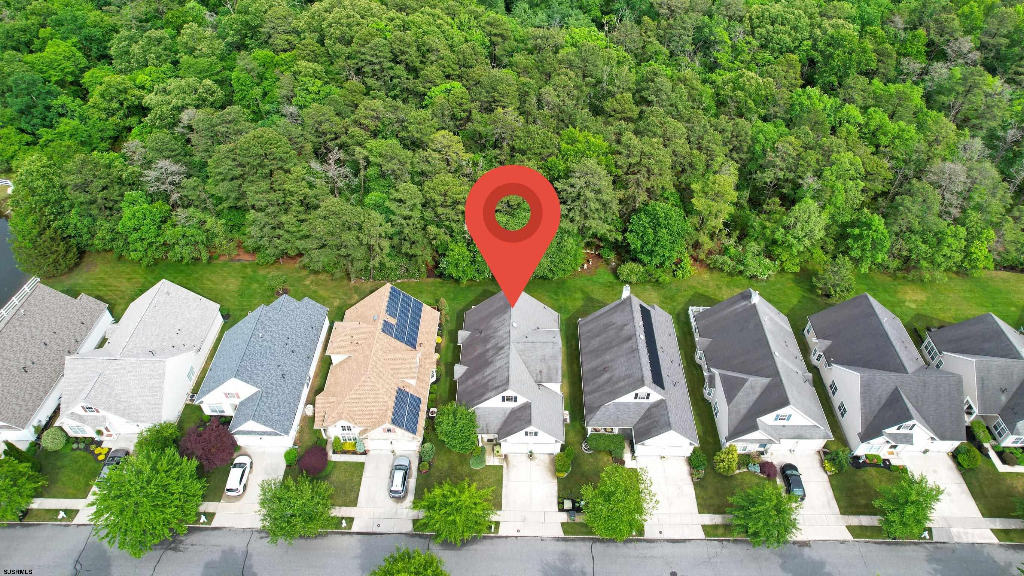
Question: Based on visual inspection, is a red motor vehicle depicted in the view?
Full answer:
No, I find no red motor vehicle anywhere in the image.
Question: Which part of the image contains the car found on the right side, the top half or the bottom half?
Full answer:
You can find the car found on the right side in the bottom half.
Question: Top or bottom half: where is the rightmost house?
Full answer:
Seen from above, the rightmost house lies in the bottom half of the view.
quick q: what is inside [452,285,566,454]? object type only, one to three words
house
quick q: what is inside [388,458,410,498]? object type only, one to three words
car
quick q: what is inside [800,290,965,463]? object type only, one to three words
house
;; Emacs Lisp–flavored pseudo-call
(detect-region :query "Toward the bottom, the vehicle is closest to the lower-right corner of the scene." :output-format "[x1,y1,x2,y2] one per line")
[778,463,809,504]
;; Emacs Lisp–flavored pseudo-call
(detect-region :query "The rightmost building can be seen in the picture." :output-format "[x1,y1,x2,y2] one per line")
[923,312,1024,448]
